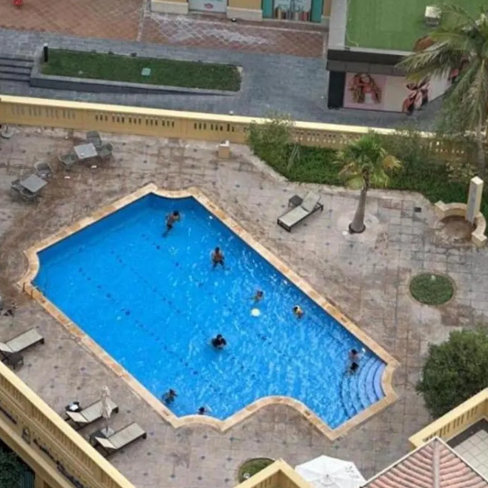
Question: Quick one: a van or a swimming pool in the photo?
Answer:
swimming pool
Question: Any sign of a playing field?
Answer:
No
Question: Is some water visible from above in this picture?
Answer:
Yes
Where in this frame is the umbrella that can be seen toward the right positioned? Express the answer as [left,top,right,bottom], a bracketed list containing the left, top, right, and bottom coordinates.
[293,445,369,488]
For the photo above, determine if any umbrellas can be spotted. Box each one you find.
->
[97,384,116,435]
[293,445,369,488]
